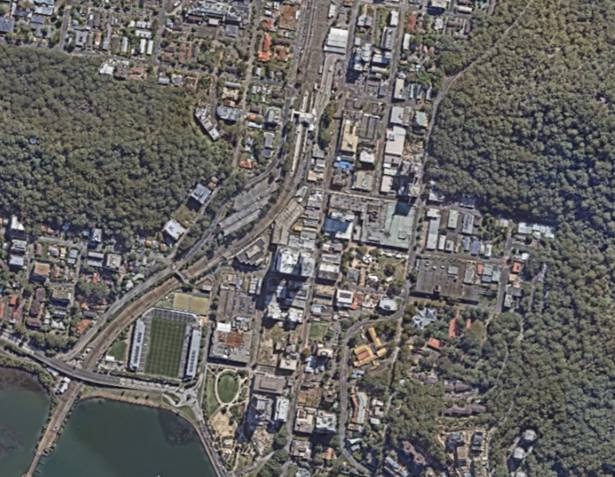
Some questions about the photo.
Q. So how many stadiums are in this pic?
one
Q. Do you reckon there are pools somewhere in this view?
No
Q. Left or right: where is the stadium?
left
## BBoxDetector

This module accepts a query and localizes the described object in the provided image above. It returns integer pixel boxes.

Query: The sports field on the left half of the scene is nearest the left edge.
[145,314,186,379]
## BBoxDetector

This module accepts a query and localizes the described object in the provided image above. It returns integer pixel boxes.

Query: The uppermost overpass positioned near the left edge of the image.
[0,333,187,400]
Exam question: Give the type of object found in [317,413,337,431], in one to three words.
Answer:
building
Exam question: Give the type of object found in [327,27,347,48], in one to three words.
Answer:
building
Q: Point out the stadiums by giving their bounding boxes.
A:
[128,304,202,386]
